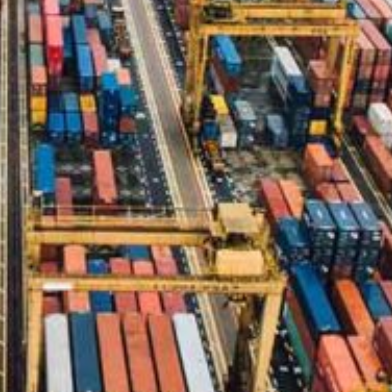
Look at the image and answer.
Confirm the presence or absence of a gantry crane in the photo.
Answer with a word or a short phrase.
Yes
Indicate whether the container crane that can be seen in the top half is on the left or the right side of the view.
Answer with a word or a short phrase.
right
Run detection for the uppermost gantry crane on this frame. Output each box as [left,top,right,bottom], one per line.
[179,0,356,147]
